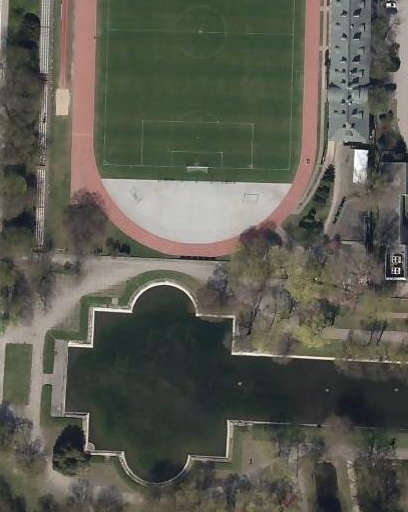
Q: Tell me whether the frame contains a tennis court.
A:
No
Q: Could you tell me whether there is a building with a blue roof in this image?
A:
No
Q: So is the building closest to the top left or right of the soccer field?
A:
to the right of it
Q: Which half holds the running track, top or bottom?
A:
top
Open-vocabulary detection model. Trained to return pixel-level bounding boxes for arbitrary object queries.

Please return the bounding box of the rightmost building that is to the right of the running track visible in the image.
[376,162,408,279]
